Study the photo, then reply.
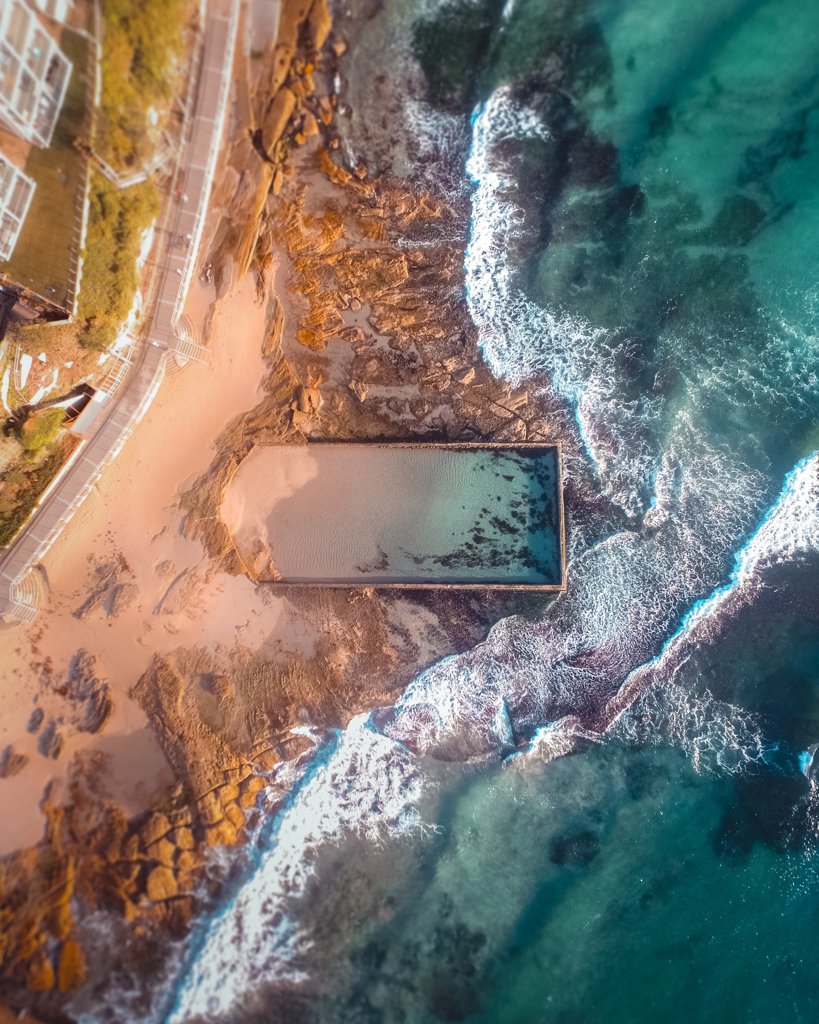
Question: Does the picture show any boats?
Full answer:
No, no boat is visible in the scene.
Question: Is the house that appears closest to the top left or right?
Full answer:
It is on the left.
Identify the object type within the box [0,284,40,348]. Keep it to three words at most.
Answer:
house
